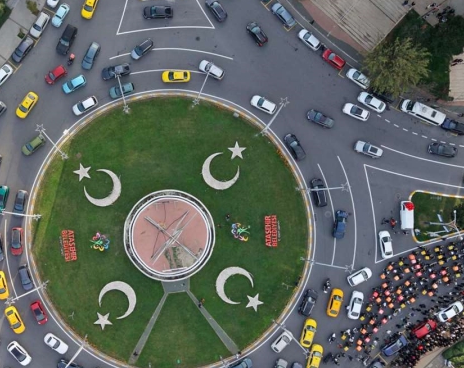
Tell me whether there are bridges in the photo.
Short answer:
No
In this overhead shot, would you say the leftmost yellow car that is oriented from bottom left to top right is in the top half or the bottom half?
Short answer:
top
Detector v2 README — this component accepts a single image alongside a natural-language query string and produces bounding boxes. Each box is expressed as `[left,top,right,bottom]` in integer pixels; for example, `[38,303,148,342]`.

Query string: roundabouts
[30,93,310,368]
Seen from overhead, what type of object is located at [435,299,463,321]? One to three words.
car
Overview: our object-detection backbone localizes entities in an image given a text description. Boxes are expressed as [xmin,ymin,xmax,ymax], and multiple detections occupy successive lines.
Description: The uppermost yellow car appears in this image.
[83,0,99,21]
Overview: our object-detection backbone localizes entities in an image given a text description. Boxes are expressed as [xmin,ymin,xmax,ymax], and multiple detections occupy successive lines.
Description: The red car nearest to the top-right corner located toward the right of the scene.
[320,48,346,71]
